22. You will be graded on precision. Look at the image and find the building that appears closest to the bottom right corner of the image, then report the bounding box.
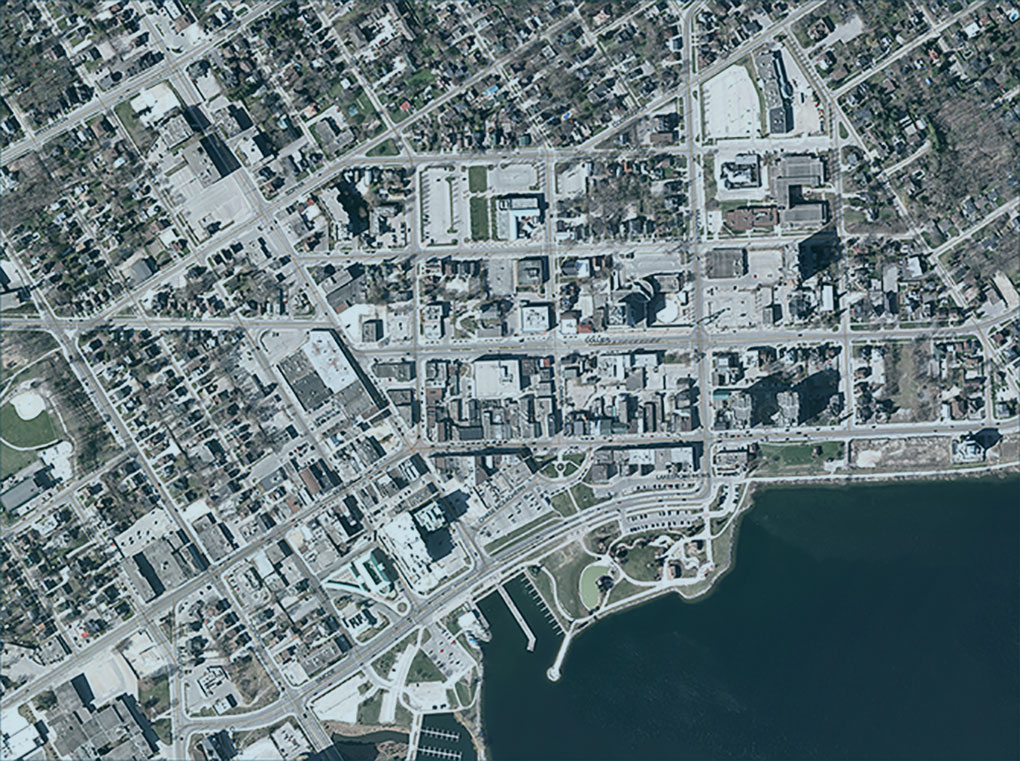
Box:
[955,440,983,460]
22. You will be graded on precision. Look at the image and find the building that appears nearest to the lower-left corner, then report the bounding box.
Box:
[0,708,41,760]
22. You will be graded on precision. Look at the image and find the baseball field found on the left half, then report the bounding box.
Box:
[0,390,55,448]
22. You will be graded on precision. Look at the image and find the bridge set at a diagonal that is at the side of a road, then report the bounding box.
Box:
[283,692,338,761]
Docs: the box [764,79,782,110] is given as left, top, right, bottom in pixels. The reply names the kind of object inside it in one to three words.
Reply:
building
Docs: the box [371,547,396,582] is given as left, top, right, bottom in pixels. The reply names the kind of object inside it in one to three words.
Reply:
building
